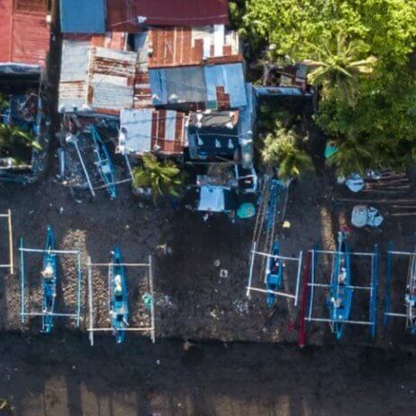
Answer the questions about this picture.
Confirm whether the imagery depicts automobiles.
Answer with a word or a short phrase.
No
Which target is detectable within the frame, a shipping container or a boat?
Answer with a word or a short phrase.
boat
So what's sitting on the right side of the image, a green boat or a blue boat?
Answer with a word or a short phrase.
blue boat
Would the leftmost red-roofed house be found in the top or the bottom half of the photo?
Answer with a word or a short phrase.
top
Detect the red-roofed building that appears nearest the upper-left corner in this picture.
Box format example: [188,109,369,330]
[0,0,79,69]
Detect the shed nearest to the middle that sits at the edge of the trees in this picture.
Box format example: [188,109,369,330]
[197,185,236,211]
